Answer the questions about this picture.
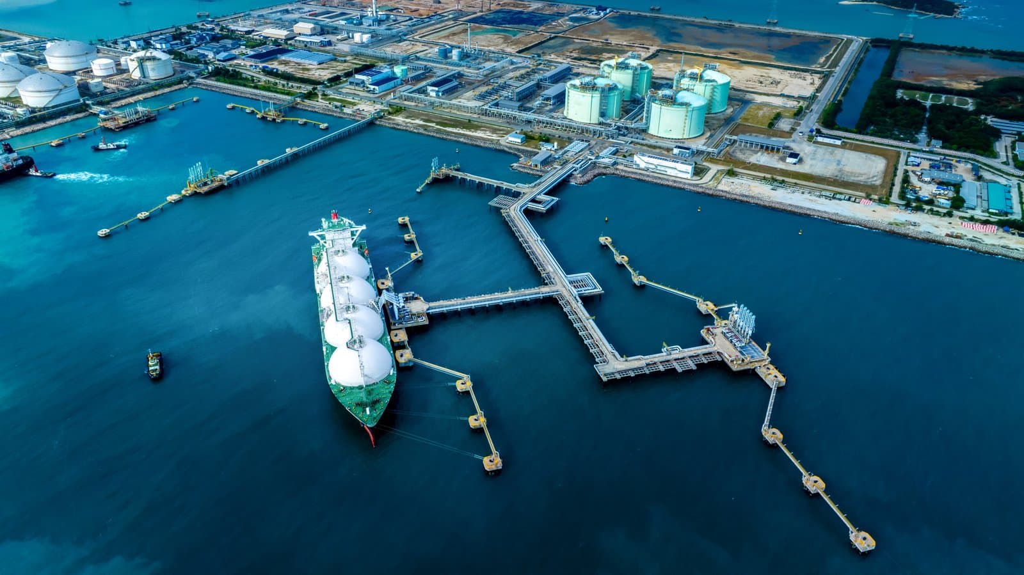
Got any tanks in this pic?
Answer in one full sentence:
Yes, a tank can be made out from above.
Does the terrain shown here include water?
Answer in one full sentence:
Yes, there is water in the image.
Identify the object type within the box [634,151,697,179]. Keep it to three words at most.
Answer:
building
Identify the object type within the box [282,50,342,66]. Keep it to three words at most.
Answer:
building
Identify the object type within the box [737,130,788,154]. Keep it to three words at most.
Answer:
shed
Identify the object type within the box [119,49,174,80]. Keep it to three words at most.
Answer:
storage tank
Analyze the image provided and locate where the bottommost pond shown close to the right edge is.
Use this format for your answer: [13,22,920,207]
[895,51,1024,73]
